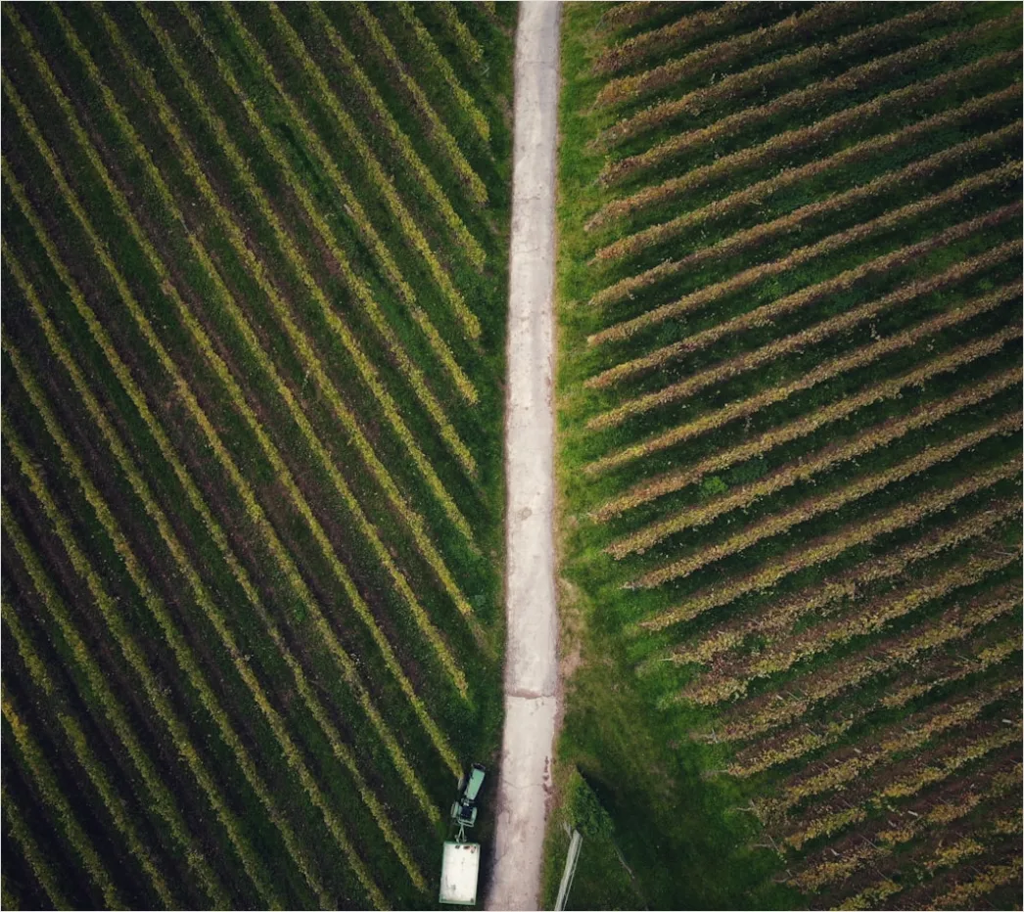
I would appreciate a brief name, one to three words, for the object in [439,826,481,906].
trailer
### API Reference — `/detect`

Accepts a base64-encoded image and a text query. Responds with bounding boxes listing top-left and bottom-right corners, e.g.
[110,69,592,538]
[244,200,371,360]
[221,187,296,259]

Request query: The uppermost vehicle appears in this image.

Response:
[450,761,487,827]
